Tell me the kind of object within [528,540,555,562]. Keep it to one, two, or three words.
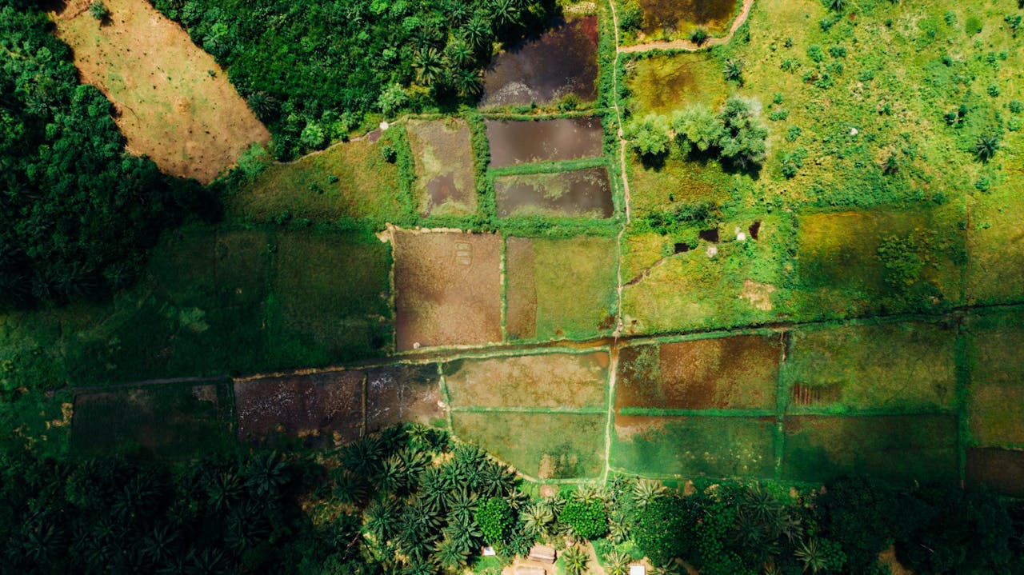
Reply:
shed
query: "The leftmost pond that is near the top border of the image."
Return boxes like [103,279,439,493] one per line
[478,13,600,107]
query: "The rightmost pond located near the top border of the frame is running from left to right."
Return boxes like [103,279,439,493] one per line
[643,0,736,38]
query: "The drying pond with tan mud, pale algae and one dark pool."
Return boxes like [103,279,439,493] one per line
[406,117,478,217]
